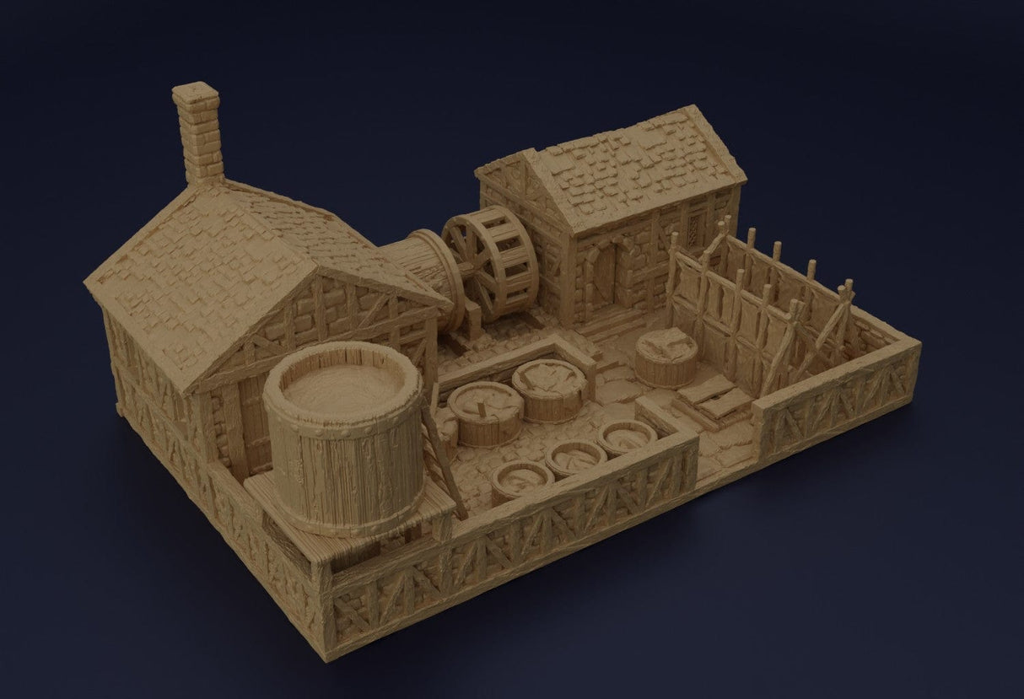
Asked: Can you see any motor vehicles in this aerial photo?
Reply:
No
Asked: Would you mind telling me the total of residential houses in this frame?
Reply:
2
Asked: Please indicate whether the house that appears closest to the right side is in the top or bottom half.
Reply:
top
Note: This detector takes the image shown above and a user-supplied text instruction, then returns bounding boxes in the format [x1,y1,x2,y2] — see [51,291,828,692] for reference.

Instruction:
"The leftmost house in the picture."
[85,84,451,518]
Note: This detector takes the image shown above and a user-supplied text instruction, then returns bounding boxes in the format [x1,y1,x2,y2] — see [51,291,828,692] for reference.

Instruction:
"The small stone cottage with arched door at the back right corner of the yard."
[477,104,745,323]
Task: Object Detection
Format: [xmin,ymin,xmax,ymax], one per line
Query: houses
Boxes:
[477,104,745,323]
[85,84,451,518]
